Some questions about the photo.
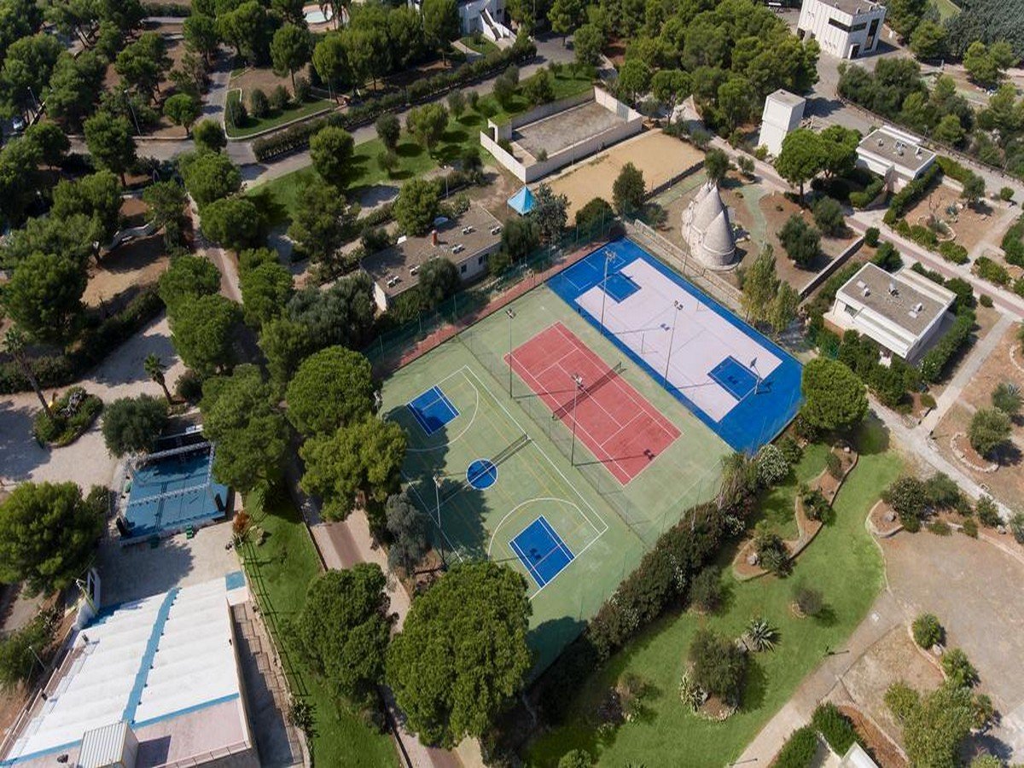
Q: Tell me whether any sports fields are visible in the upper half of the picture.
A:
Yes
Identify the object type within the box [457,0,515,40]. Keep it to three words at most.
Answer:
house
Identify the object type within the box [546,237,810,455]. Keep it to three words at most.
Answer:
basketball court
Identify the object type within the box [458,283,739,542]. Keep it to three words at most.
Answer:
tennis court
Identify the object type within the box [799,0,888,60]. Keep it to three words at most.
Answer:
building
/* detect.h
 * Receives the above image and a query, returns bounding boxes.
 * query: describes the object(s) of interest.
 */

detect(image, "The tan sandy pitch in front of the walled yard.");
[537,131,703,225]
